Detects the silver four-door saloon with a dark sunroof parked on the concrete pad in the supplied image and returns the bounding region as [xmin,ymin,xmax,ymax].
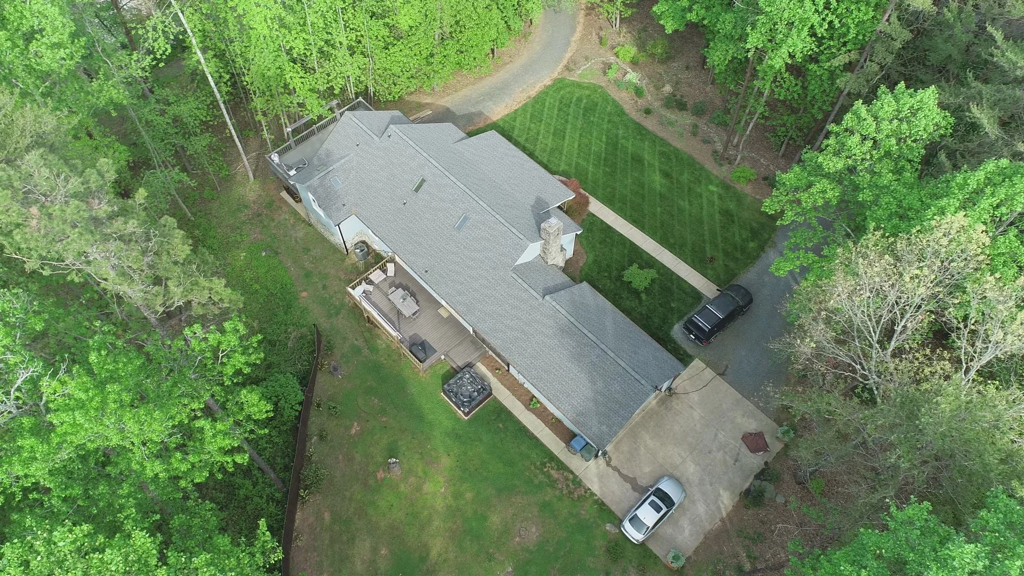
[622,471,688,544]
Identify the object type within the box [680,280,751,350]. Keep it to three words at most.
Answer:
truck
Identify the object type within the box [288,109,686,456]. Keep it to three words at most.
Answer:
house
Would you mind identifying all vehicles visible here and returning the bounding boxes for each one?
[680,280,751,350]
[622,471,688,544]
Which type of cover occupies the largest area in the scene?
trees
